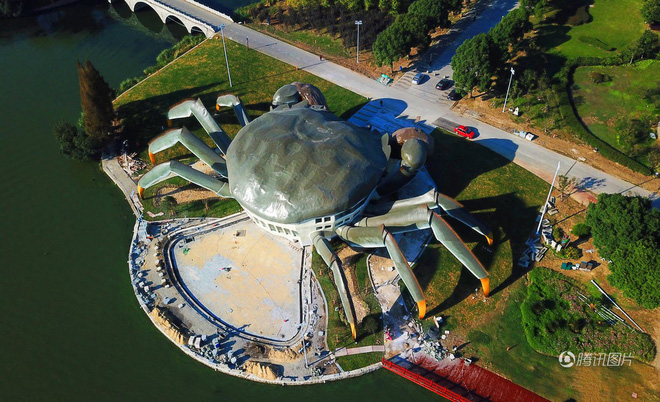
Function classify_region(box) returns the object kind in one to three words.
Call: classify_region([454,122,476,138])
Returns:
car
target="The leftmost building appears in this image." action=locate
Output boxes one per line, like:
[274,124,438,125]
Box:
[136,76,495,338]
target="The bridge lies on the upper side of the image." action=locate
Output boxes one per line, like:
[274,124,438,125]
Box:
[113,0,249,41]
